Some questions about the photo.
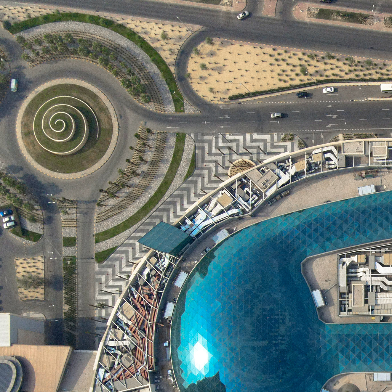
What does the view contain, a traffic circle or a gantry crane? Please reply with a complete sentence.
It is a traffic circle that can be seen here.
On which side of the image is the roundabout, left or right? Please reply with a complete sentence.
It is on the left.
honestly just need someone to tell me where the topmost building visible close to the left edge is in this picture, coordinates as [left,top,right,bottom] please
[0,313,58,348]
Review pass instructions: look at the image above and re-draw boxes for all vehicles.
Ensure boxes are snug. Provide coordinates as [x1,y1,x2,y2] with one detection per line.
[11,78,19,93]
[270,112,283,119]
[238,11,250,21]
[296,92,309,98]
[0,210,13,217]
[3,217,16,222]
[322,87,335,93]
[3,222,17,229]
[381,83,392,93]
